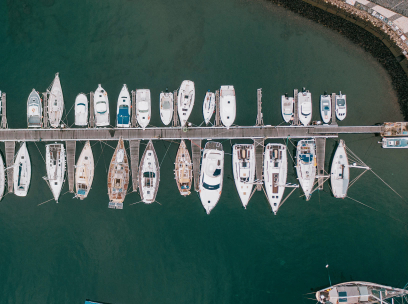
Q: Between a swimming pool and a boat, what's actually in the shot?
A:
boat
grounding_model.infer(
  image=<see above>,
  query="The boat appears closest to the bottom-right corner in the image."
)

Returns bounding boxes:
[300,268,408,304]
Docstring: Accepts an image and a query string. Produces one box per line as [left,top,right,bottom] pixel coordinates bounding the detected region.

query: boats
[75,139,94,201]
[331,137,405,206]
[298,89,313,127]
[379,137,408,148]
[319,91,331,124]
[335,92,347,122]
[174,137,193,195]
[220,84,237,131]
[234,144,266,209]
[136,137,171,204]
[75,92,88,126]
[106,131,130,207]
[94,79,110,127]
[118,79,132,127]
[198,140,225,216]
[27,87,43,127]
[160,88,174,126]
[261,143,302,215]
[178,79,196,127]
[300,268,408,304]
[46,70,64,127]
[136,88,152,133]
[287,137,335,201]
[42,143,67,204]
[11,141,31,196]
[278,92,292,125]
[203,91,216,126]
